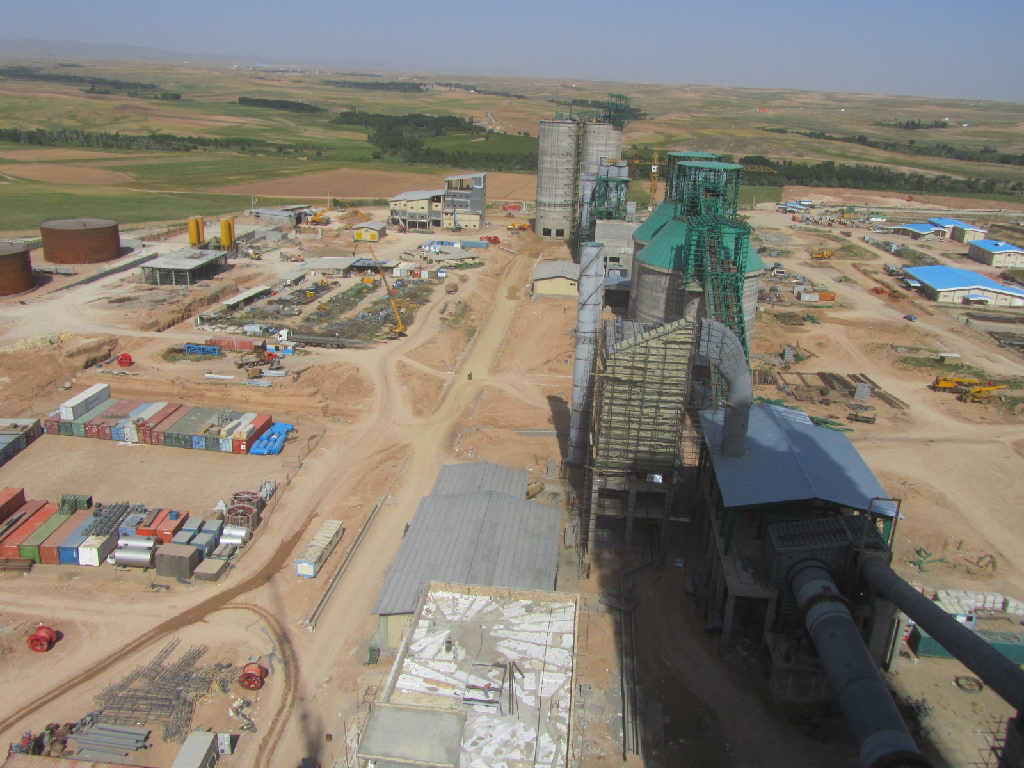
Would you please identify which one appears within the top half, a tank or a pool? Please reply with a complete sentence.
It is a tank that can be seen within the top half.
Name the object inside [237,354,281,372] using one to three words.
vehicle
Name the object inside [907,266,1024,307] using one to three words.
building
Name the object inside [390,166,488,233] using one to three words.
building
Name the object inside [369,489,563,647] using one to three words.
warehouse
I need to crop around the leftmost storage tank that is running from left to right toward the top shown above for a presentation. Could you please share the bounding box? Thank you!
[11,212,118,263]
